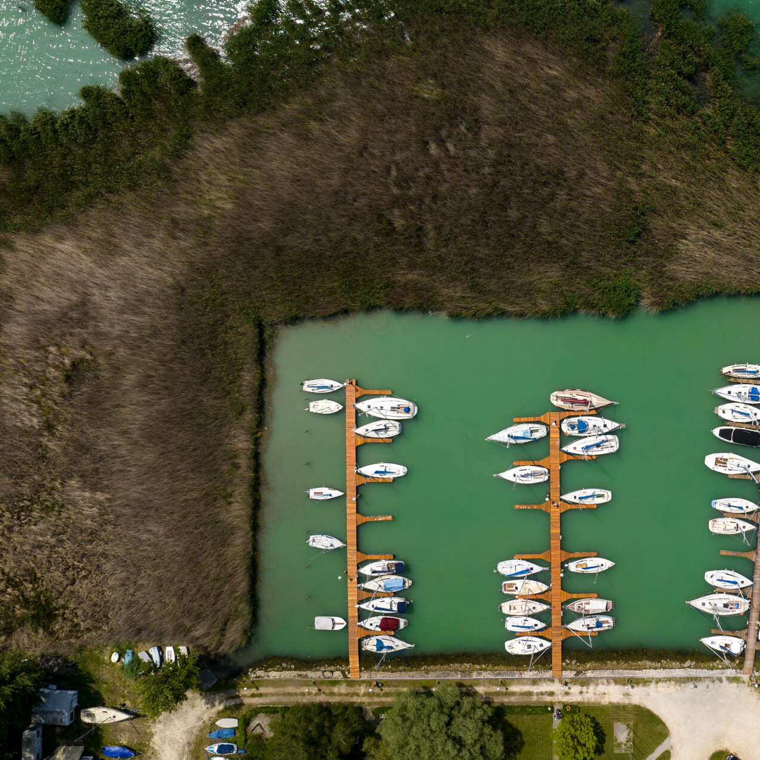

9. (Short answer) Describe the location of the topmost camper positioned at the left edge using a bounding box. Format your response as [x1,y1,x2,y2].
[35,696,80,722]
